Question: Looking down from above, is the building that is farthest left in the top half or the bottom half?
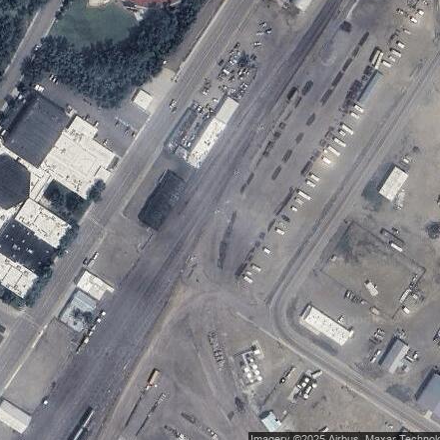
bottom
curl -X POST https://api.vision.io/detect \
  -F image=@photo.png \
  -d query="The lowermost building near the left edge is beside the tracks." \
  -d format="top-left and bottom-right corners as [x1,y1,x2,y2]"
[0,400,32,433]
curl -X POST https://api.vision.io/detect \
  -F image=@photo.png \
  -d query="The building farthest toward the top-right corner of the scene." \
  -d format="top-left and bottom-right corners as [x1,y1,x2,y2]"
[359,71,385,105]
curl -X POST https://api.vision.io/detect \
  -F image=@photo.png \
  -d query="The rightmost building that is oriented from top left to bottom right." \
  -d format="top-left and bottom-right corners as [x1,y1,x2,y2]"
[303,305,355,347]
